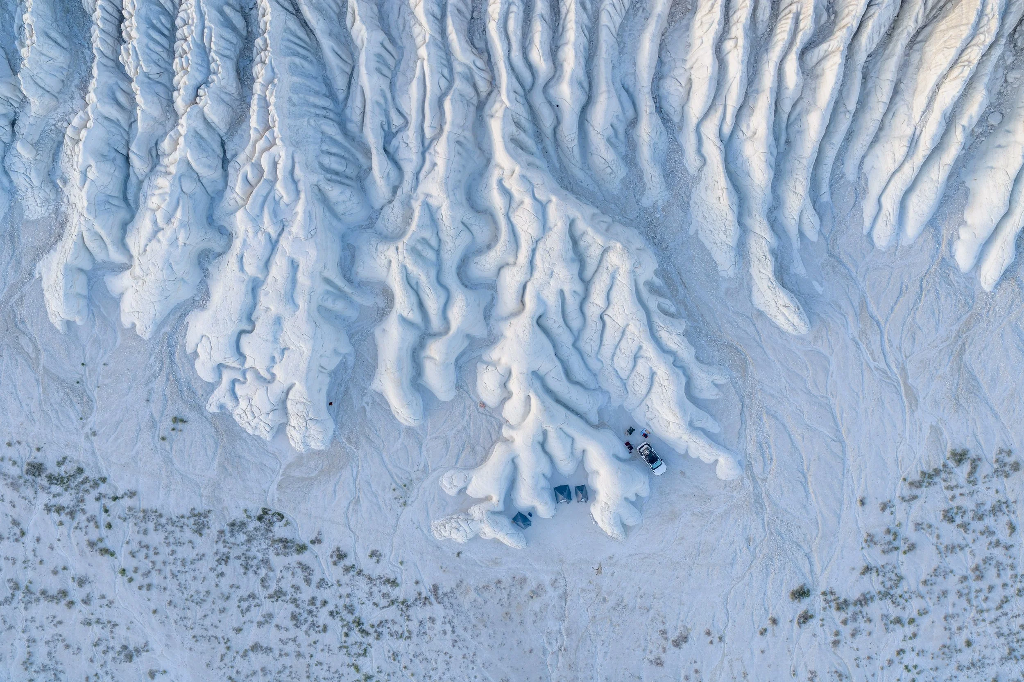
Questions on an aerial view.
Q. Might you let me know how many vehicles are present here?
1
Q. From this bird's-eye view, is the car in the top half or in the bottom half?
bottom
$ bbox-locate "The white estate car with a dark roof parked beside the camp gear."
[637,442,667,477]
